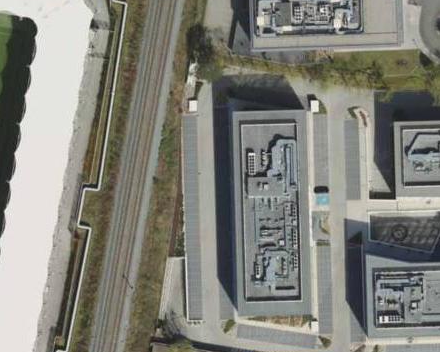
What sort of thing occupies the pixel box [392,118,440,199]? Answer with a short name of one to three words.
building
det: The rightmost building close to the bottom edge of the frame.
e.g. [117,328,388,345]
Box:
[365,247,440,338]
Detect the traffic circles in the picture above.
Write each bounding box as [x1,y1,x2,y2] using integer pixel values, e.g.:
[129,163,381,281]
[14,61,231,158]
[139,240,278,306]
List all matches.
[416,0,440,52]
